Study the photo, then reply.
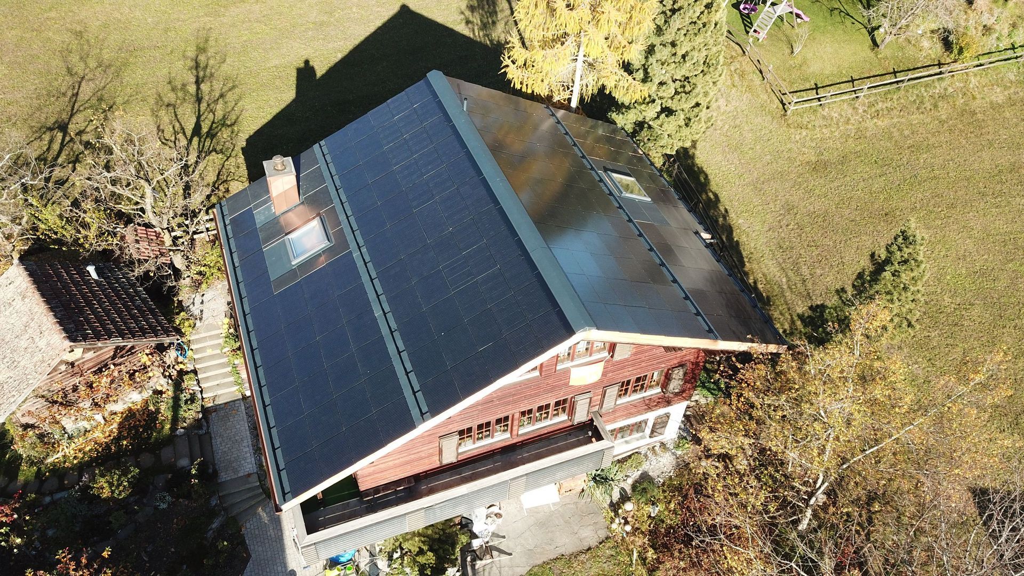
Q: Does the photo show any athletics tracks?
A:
No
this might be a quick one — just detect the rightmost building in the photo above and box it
[211,67,793,572]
